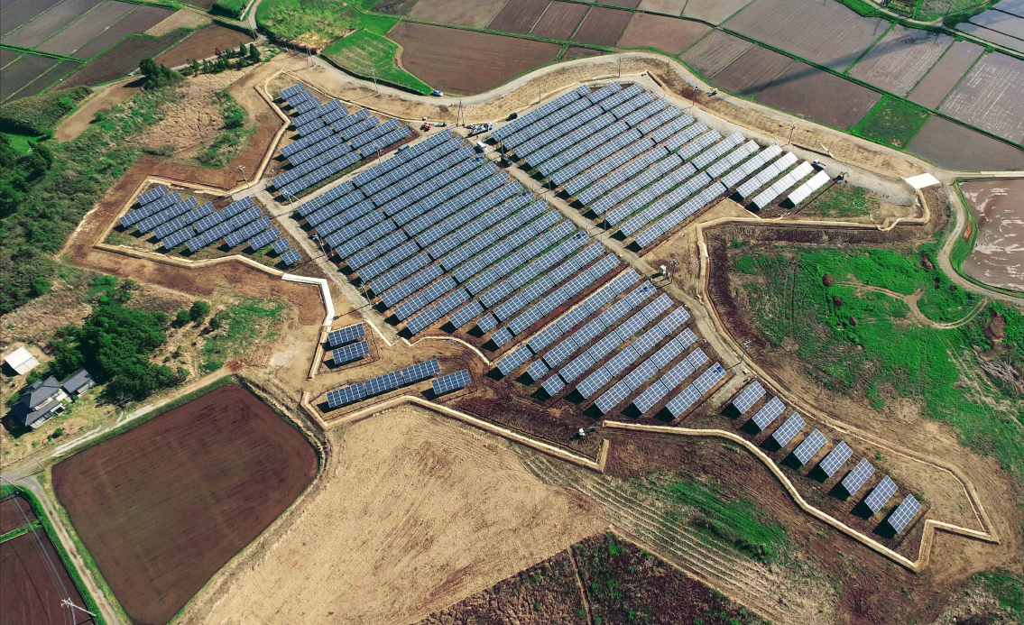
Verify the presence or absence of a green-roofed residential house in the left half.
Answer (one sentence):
No, there is no green-roofed residential house in the left half.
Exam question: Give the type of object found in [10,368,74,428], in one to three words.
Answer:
house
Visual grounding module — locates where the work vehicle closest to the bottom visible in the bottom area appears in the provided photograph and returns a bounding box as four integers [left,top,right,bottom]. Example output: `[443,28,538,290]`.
[575,426,594,439]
